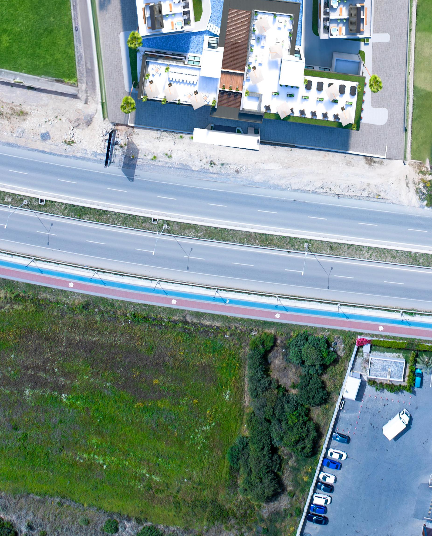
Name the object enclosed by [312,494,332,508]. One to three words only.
vehicle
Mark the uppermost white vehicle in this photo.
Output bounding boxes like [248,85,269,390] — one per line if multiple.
[383,413,410,448]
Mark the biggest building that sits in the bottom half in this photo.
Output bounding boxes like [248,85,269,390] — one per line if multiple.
[367,350,406,383]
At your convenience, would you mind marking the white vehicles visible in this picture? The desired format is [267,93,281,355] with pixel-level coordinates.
[312,494,332,508]
[318,472,337,485]
[327,449,347,463]
[383,413,410,448]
